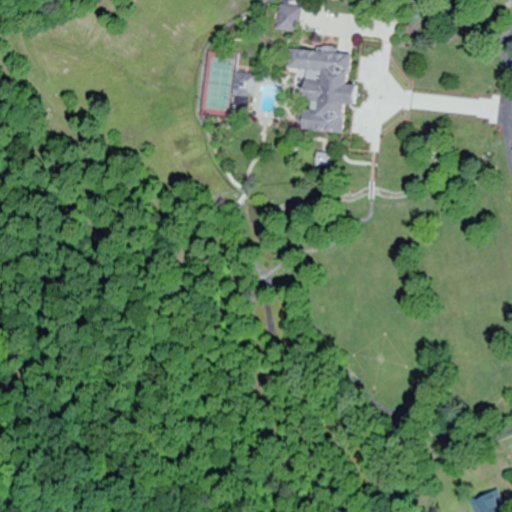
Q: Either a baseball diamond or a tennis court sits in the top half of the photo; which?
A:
tennis court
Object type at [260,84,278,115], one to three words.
swimming pool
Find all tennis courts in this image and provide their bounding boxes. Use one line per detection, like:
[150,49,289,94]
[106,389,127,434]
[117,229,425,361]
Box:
[202,50,237,116]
